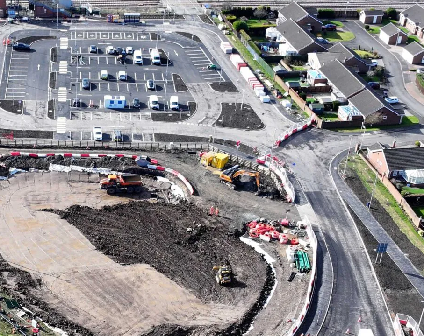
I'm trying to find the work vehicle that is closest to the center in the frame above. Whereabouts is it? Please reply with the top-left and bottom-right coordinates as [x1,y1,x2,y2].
[215,163,257,189]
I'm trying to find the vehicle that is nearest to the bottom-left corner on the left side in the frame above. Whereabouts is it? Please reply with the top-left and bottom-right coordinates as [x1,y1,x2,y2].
[102,177,144,196]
